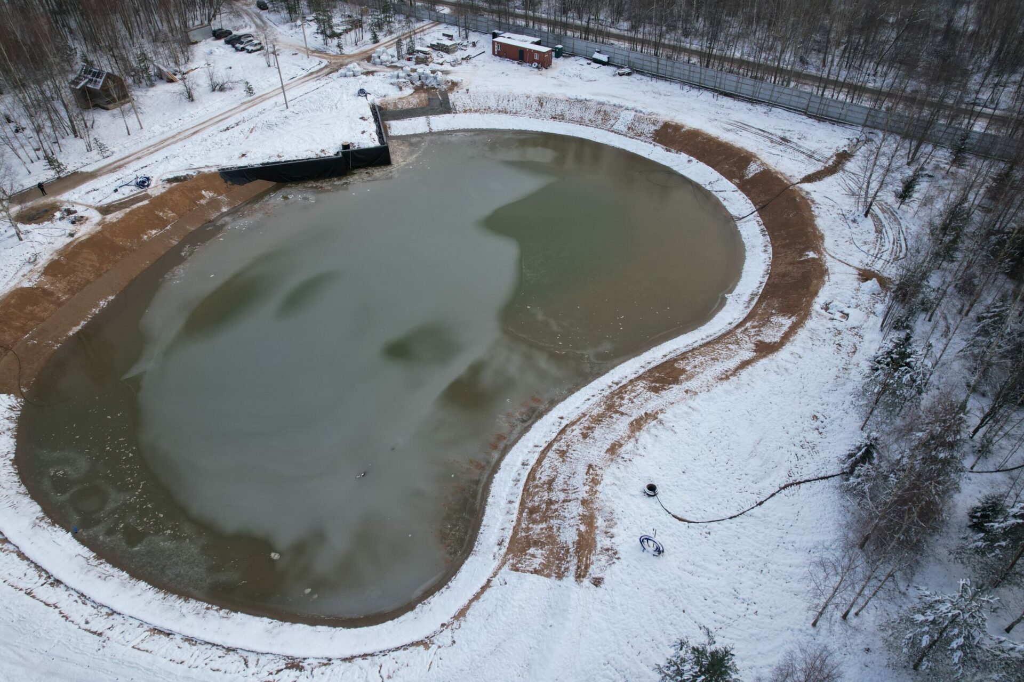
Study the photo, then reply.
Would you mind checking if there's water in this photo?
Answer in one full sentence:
Yes, water can be seen from above here.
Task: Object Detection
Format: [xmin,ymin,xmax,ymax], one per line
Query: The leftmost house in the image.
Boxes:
[68,61,141,111]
